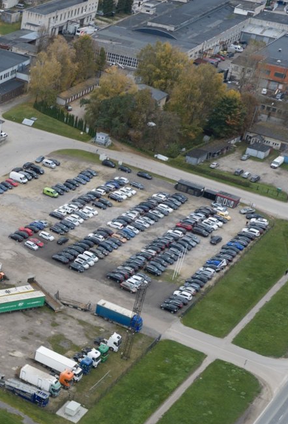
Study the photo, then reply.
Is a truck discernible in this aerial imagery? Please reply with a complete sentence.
Yes, you can see a truck in this photo.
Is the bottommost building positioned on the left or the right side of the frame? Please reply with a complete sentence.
The bottommost building sits on the left side.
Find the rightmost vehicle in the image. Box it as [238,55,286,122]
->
[272,154,285,167]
